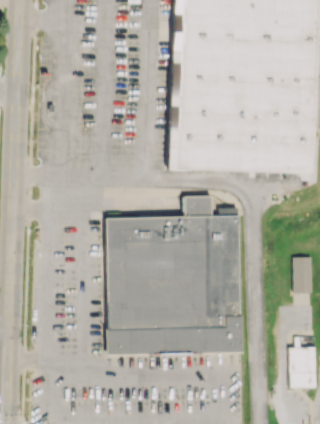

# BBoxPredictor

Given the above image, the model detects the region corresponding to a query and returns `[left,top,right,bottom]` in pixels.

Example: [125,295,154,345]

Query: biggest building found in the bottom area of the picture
[106,195,242,356]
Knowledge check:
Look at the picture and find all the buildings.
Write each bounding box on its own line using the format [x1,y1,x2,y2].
[292,257,312,293]
[106,195,242,356]
[168,0,320,183]
[288,336,316,390]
